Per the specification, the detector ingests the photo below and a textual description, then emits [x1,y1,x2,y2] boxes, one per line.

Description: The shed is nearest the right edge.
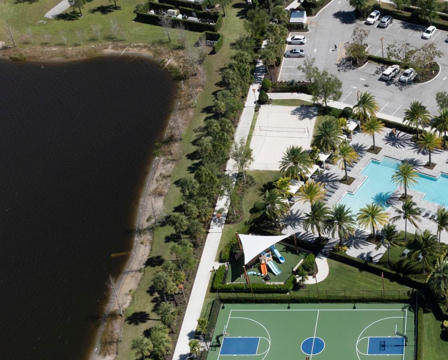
[289,11,306,33]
